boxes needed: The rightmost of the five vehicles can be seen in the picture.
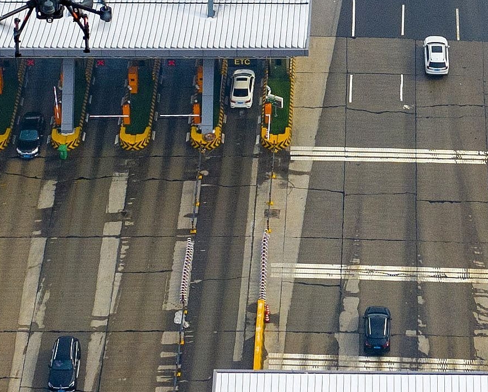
[423,39,451,76]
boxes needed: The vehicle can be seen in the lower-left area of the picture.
[48,338,84,392]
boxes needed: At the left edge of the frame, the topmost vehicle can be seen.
[16,115,49,157]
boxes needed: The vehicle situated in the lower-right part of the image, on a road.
[361,304,394,353]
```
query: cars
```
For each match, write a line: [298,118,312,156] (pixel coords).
[16,115,49,157]
[48,338,84,392]
[423,39,451,76]
[361,304,394,353]
[229,69,258,107]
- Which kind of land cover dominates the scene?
paved ground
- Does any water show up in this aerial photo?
No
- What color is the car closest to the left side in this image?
black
